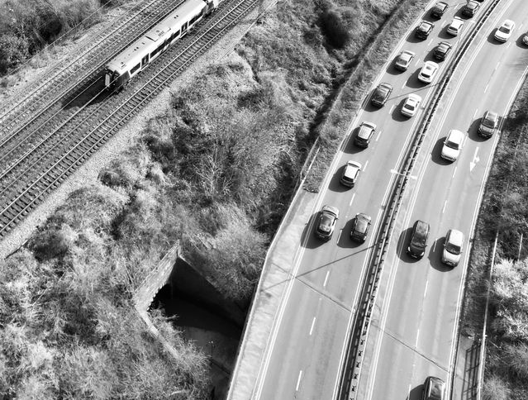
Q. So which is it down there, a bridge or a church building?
bridge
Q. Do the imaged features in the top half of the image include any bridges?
No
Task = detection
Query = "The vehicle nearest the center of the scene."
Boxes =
[313,206,340,243]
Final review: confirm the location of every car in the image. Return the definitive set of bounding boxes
[432,42,453,62]
[413,20,436,42]
[460,0,482,18]
[313,206,340,243]
[338,160,362,189]
[440,128,465,162]
[399,92,422,119]
[477,109,499,139]
[347,213,373,247]
[417,61,440,84]
[493,20,515,42]
[405,218,431,260]
[439,227,466,269]
[368,81,394,107]
[429,1,449,20]
[444,16,466,37]
[352,122,376,151]
[420,374,445,400]
[393,50,417,75]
